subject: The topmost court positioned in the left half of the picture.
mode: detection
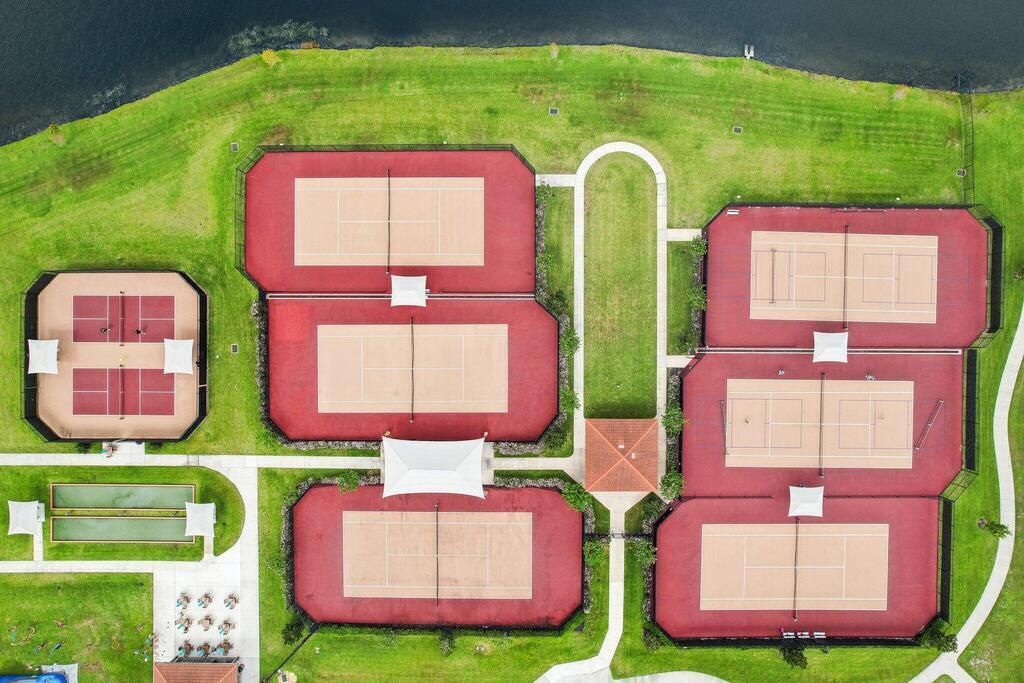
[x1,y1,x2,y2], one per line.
[246,150,535,293]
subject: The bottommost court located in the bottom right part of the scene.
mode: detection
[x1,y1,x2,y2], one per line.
[654,497,939,638]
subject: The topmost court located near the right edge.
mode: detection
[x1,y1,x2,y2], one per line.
[700,206,988,349]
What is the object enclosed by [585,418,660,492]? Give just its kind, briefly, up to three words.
building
